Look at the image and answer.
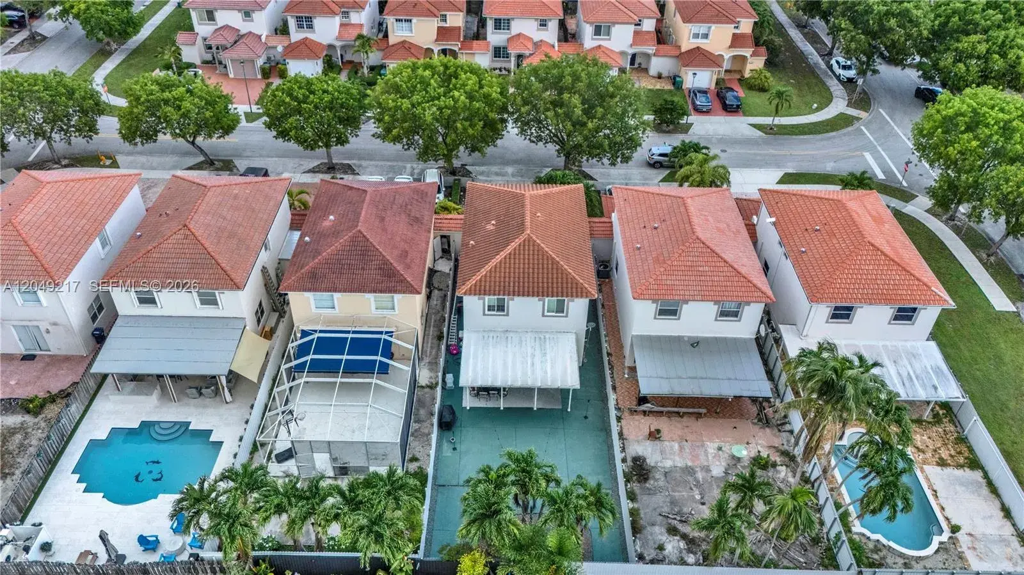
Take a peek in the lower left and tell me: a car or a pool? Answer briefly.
pool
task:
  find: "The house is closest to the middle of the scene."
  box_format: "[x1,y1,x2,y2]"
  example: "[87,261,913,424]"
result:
[455,179,599,412]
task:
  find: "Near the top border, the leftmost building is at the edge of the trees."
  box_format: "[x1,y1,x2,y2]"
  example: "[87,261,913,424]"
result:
[178,0,289,77]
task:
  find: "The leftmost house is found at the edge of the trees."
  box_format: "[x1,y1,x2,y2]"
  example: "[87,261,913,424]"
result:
[0,168,144,353]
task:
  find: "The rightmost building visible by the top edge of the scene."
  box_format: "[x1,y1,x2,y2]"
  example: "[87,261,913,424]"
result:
[664,0,764,88]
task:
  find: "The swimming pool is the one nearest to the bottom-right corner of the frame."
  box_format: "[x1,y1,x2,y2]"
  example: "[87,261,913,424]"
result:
[824,422,959,566]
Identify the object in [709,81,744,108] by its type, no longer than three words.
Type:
car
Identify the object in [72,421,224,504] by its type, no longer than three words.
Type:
swimming pool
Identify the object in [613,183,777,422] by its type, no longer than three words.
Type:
house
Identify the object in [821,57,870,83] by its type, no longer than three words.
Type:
car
